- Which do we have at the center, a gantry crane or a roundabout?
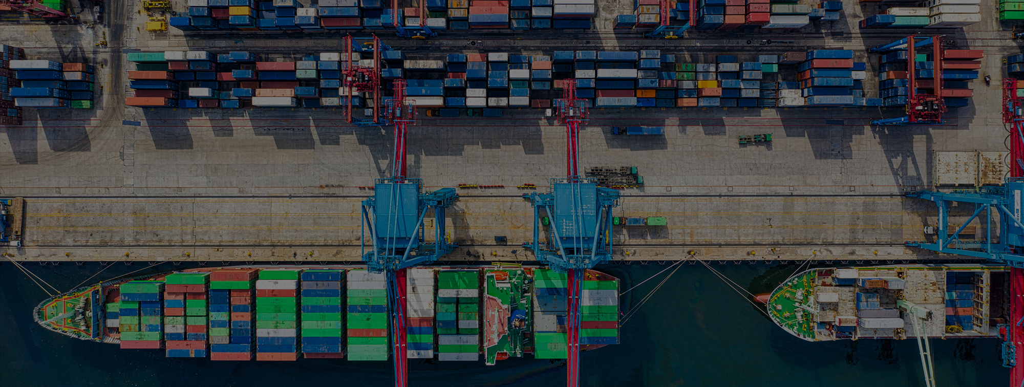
gantry crane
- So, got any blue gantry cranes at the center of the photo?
Yes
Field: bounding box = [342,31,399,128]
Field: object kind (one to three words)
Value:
container crane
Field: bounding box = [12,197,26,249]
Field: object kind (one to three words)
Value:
vehicle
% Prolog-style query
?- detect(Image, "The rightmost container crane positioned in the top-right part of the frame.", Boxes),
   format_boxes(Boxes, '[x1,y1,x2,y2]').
[867,30,944,128]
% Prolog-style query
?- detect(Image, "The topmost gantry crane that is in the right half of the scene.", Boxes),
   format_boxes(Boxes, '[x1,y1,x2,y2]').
[641,0,698,40]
